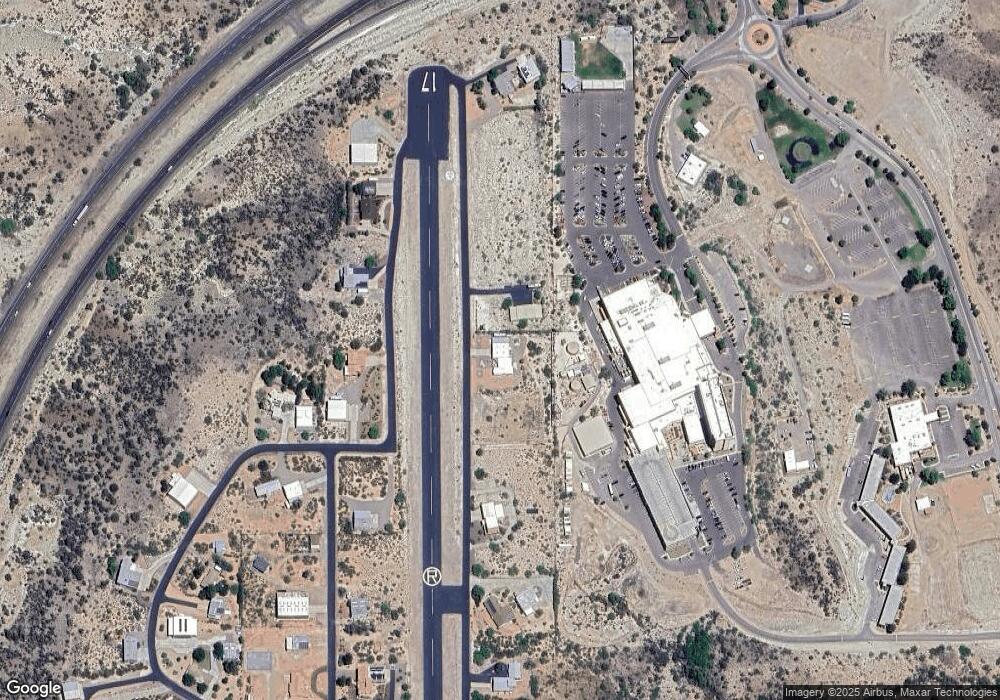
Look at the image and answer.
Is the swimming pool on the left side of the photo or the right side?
right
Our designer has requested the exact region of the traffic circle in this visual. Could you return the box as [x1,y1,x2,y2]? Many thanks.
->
[739,15,782,59]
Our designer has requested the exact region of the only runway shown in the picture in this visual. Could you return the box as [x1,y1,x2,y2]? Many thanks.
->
[395,63,473,700]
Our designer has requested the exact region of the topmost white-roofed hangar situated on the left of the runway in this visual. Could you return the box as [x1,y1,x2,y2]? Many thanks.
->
[352,144,377,164]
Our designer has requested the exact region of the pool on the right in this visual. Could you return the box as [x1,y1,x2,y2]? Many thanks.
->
[879,482,899,504]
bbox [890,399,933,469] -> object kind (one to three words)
building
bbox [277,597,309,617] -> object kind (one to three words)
house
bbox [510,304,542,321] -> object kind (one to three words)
hangar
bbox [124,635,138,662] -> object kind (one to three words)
shed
